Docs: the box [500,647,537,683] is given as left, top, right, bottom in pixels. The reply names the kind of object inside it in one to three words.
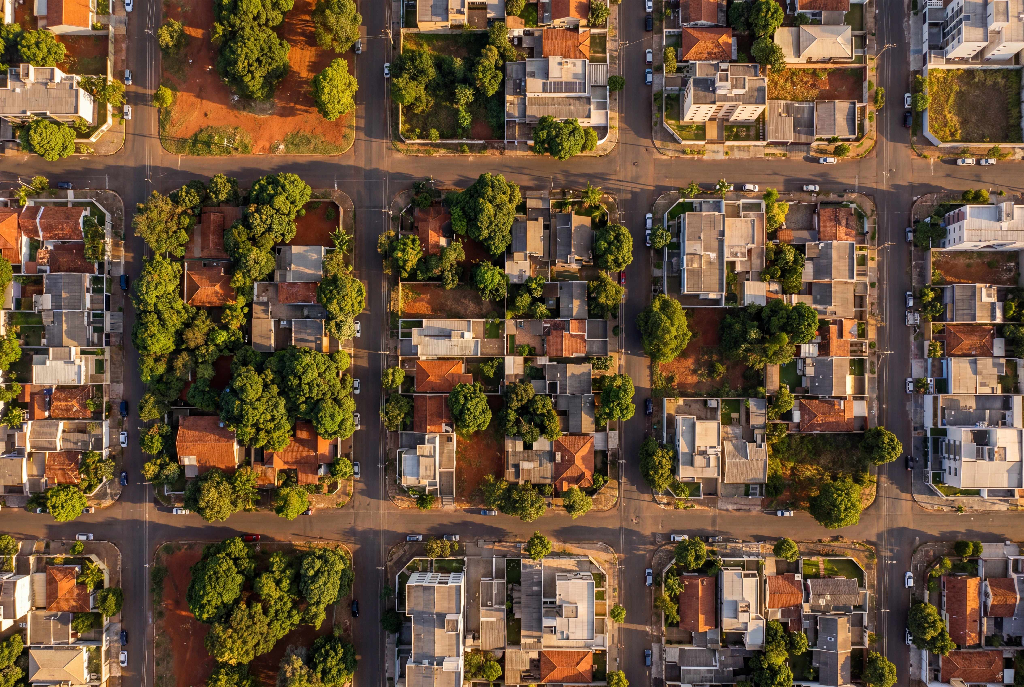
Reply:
shed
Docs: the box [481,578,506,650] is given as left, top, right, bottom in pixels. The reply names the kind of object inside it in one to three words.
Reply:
house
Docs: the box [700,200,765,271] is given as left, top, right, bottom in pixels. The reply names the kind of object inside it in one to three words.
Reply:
house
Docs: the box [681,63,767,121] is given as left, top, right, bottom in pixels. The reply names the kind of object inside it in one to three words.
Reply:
building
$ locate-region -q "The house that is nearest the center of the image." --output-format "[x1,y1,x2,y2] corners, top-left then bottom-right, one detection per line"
[505,357,523,382]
